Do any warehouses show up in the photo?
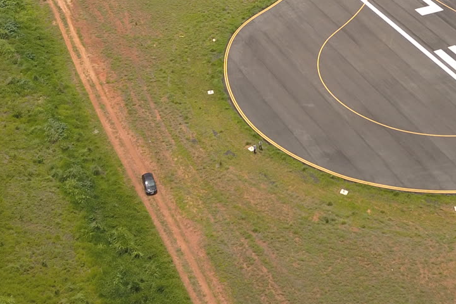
No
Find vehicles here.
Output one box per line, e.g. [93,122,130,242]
[142,169,159,190]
